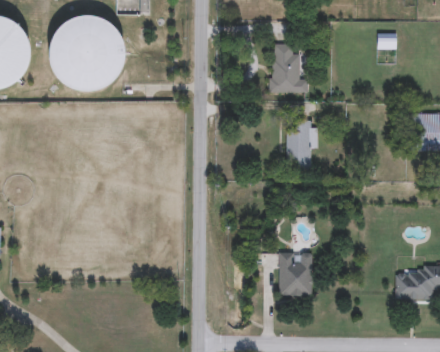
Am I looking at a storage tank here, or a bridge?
storage tank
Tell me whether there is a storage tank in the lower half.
No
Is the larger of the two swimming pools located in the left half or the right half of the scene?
right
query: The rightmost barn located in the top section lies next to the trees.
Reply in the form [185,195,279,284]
[418,114,440,152]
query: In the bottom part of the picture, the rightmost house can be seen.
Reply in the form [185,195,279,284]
[396,264,440,299]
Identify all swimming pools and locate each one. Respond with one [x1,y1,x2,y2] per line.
[402,226,431,245]
[292,218,318,252]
